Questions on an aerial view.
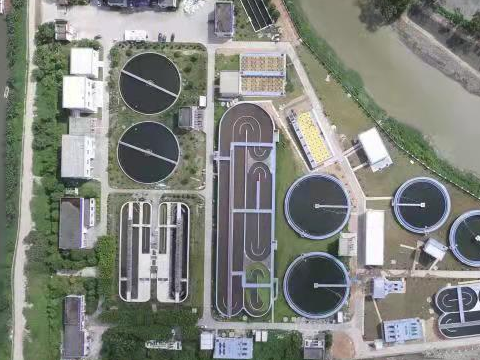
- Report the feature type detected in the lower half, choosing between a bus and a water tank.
water tank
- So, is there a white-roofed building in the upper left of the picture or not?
Yes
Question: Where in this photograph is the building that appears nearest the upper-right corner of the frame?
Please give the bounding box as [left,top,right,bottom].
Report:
[359,127,392,169]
